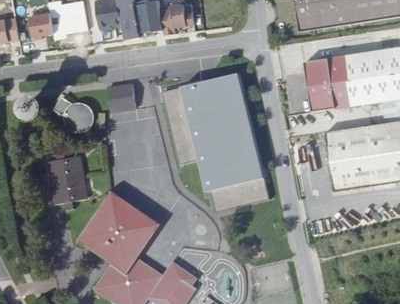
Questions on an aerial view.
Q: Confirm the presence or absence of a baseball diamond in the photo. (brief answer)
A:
No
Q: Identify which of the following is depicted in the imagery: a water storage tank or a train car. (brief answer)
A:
water storage tank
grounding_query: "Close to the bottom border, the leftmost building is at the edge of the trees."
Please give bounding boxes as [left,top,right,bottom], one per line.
[78,192,197,304]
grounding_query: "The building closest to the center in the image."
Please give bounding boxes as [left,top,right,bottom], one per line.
[164,74,270,211]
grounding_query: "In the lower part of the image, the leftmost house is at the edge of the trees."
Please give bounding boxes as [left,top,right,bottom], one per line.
[49,156,90,210]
